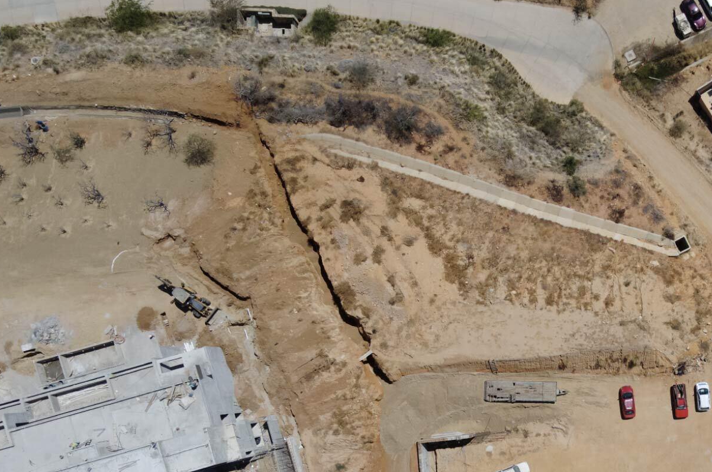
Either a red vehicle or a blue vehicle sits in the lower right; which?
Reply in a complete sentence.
What appears in the lower right is a red vehicle.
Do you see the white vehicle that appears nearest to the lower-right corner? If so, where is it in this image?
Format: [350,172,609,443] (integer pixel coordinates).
[695,383,711,413]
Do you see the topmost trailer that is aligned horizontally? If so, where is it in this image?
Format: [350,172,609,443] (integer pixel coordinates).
[481,380,569,404]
